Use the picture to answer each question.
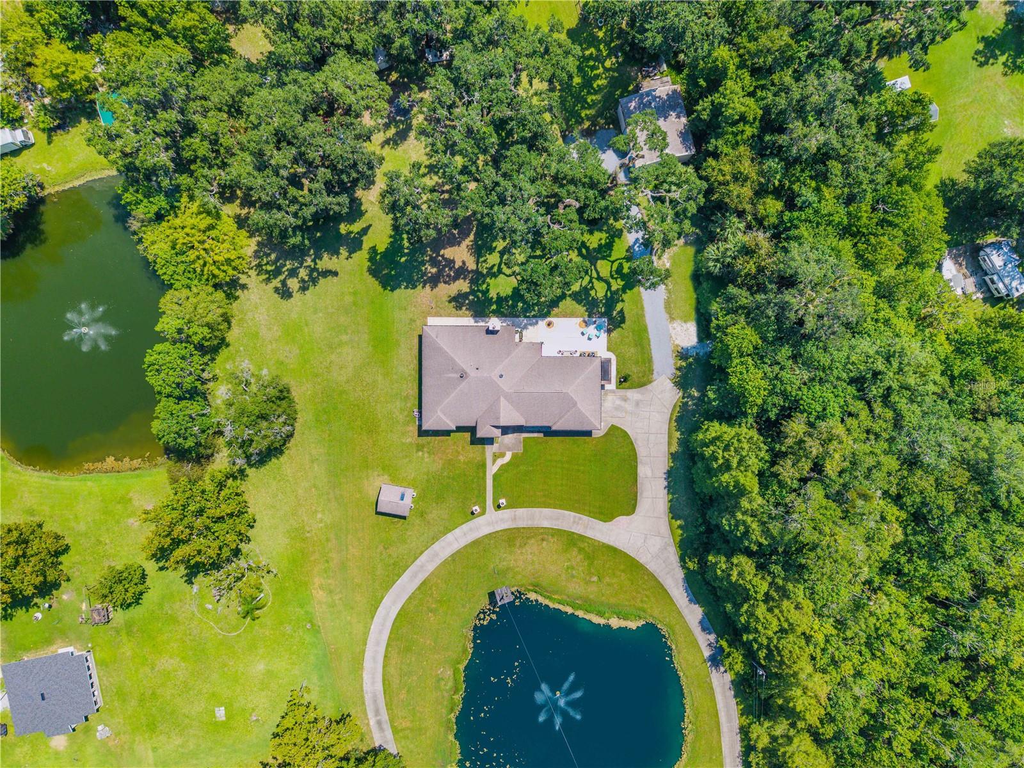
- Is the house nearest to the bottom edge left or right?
left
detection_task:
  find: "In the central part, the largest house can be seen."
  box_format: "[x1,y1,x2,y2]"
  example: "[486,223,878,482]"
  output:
[422,324,602,438]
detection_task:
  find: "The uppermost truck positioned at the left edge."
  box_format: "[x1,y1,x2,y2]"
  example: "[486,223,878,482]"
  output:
[0,128,42,156]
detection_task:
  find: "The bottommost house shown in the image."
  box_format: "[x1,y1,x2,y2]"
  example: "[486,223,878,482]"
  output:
[0,646,106,737]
